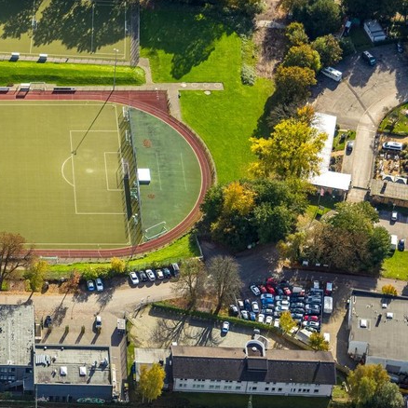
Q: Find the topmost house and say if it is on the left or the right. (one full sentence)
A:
You can find the topmost house on the right side of the picture.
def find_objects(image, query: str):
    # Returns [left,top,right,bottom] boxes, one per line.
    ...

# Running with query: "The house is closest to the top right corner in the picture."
[362,21,386,48]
